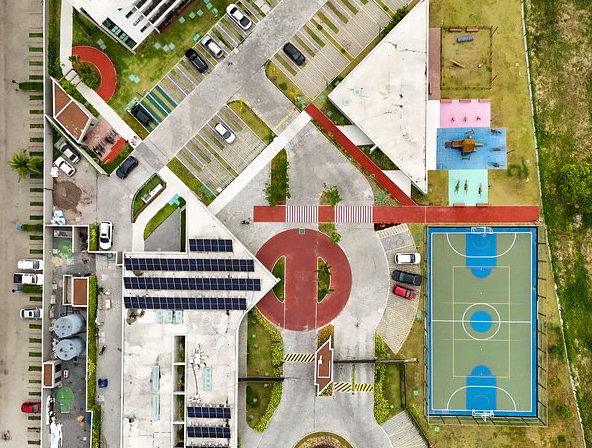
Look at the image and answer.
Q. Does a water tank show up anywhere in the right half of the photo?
No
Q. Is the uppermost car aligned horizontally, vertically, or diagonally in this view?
diagonally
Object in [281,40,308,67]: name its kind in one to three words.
car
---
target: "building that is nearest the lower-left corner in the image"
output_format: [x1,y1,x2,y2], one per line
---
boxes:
[43,359,62,387]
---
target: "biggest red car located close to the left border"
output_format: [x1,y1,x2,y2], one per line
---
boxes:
[20,399,42,414]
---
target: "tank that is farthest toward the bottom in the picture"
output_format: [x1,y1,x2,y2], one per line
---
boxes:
[59,331,88,359]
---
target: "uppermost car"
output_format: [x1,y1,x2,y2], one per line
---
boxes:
[226,3,253,32]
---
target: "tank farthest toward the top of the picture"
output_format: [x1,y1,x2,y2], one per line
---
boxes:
[53,310,86,337]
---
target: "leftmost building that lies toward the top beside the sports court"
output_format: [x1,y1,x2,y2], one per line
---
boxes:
[328,0,429,194]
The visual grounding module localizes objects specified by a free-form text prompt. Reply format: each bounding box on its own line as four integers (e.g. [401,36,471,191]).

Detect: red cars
[391,284,418,300]
[20,399,42,414]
